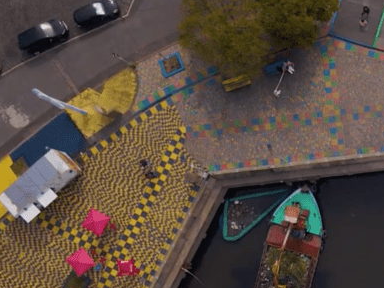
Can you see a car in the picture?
Yes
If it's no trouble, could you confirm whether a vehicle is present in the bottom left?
No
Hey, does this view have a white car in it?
No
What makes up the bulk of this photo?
paved ground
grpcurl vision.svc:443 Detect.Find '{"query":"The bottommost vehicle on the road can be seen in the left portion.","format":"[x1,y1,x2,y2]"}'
[14,19,71,55]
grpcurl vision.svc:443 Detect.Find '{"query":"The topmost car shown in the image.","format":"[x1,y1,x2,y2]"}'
[72,0,123,29]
